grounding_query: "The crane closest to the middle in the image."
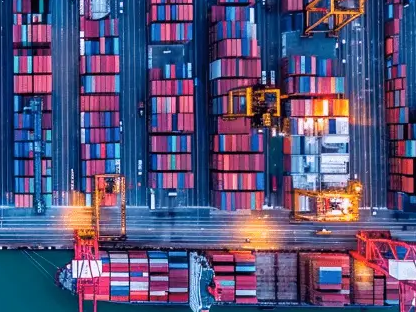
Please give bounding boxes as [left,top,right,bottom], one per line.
[232,83,281,122]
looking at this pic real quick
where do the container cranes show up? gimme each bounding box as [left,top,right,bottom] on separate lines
[304,0,365,38]
[292,185,363,223]
[88,171,126,240]
[349,227,416,312]
[64,227,107,312]
[232,83,281,122]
